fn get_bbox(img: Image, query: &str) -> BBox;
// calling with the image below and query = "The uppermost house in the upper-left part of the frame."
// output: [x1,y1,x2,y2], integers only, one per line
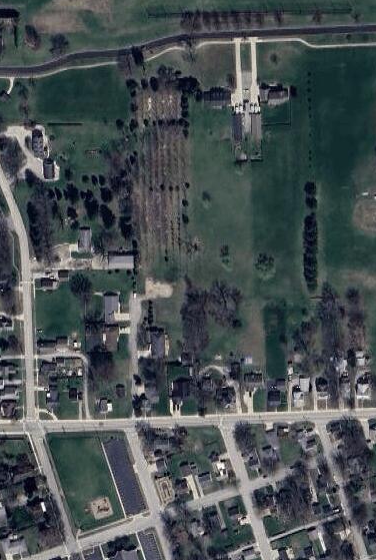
[31,129,46,157]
